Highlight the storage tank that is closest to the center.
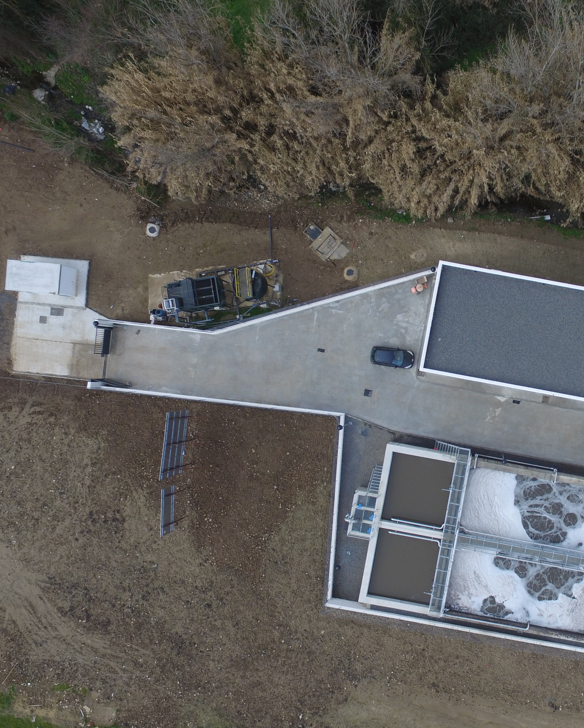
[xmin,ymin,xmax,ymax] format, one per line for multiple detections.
[225,266,274,307]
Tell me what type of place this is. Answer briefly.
industrial area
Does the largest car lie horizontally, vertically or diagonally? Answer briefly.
horizontally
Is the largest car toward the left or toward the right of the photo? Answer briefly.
right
